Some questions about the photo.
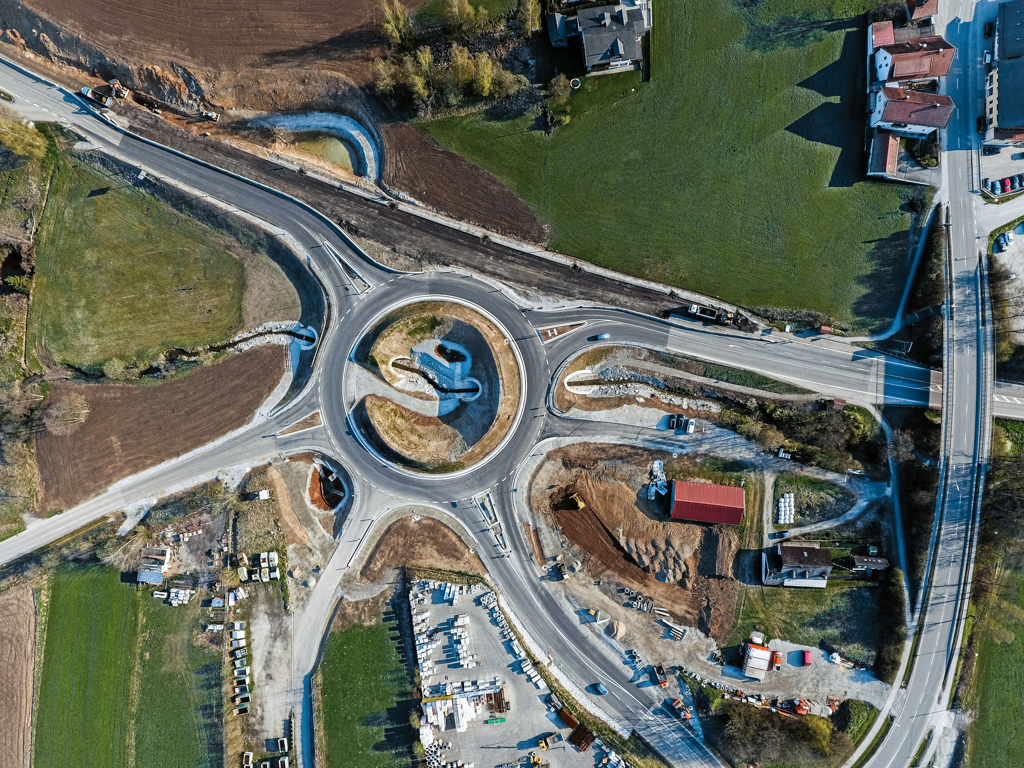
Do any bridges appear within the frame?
Yes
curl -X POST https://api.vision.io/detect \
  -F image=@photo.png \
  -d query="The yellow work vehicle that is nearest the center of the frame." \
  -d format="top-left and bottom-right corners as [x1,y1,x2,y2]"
[568,490,586,511]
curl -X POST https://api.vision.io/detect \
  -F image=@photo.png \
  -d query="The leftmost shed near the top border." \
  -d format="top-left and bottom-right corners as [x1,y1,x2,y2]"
[546,13,568,46]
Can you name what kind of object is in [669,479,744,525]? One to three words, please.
barn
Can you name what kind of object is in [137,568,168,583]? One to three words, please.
shed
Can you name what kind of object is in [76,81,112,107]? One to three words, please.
truck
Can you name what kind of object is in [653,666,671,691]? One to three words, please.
vehicle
